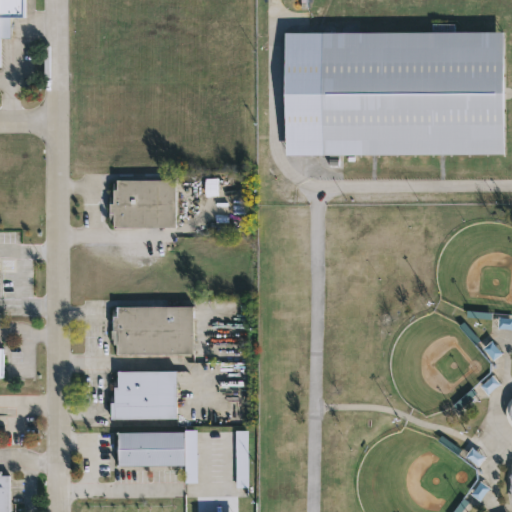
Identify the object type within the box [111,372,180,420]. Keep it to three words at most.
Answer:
building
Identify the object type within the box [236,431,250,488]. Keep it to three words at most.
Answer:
shed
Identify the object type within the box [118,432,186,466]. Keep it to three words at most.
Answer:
building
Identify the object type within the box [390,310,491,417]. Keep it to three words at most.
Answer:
baseball field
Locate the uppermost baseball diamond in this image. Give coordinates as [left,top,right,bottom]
[436,222,512,312]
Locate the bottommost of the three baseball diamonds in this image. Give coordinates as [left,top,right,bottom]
[357,427,478,512]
